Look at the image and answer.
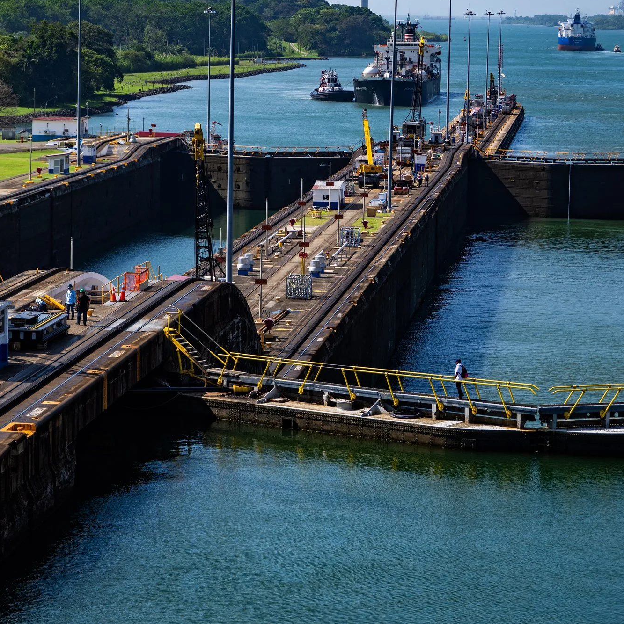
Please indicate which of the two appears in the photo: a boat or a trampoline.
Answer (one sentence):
There is a boat in the scene.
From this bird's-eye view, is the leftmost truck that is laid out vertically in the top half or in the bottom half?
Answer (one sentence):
The top half of the photo is where the leftmost truck that is laid out vertically is.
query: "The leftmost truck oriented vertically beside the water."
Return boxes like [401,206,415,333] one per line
[351,103,389,187]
